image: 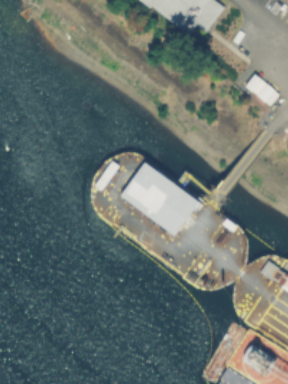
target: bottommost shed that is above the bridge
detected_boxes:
[246,74,280,106]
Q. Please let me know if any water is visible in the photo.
Yes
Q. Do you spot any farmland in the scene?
No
